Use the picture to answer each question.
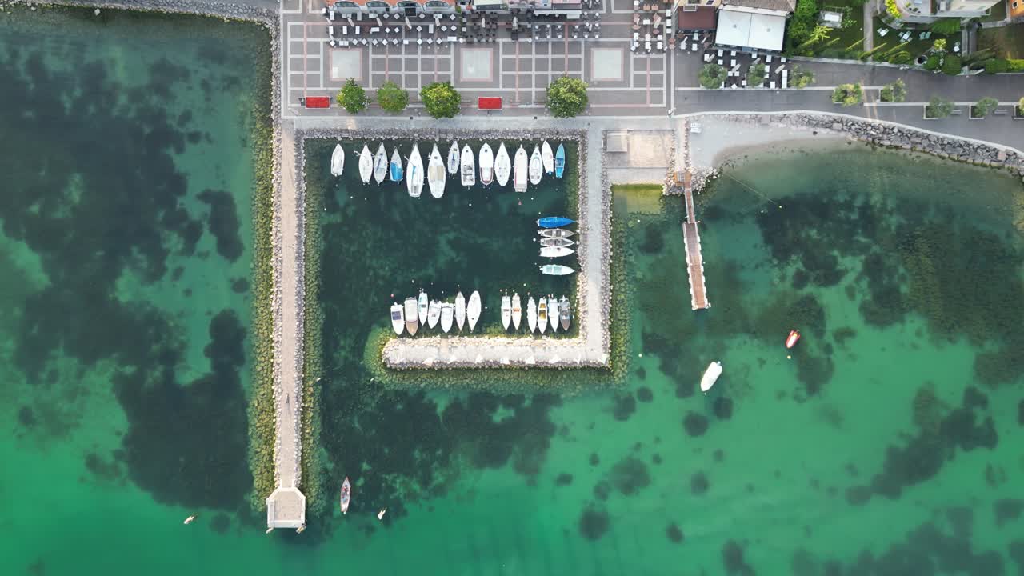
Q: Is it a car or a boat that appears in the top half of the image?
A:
boat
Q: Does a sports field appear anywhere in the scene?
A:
No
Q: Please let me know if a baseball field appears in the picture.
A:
No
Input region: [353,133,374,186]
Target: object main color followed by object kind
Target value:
white boat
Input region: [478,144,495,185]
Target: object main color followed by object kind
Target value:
white boat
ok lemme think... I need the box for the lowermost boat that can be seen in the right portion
[702,361,721,391]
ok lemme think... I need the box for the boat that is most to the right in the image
[786,330,801,348]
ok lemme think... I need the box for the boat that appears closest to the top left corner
[331,140,345,178]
